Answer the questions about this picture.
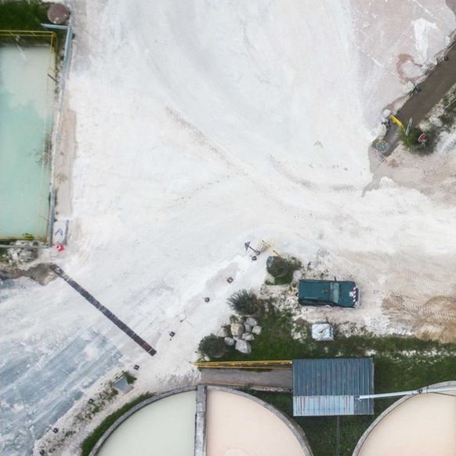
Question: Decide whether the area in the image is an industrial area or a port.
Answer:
industrial area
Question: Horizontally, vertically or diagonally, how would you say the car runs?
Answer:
horizontally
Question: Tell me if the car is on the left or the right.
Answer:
right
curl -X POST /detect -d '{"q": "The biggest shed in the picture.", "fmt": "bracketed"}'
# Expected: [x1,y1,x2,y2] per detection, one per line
[291,358,380,416]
